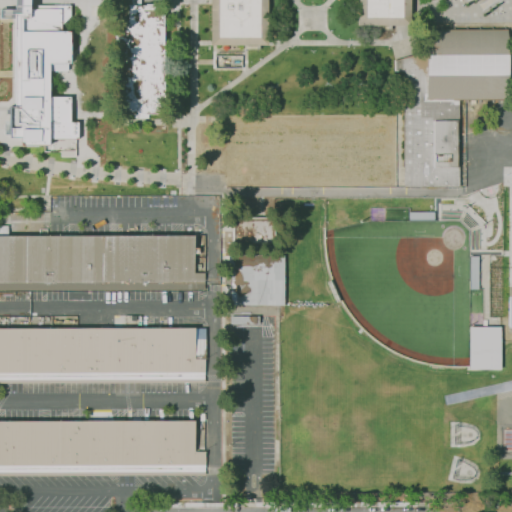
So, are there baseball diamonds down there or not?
Yes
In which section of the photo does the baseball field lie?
right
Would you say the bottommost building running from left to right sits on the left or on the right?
left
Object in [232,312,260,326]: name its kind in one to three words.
shed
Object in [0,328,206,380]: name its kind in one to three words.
building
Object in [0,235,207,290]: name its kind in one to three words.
building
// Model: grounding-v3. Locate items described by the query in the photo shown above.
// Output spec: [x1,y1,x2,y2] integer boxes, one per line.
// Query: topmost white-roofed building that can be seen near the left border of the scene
[12,0,80,158]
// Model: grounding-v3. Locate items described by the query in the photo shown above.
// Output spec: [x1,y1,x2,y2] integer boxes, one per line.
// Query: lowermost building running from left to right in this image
[0,420,206,472]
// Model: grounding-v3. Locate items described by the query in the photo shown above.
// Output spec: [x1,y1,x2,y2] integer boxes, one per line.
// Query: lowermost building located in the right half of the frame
[470,326,503,370]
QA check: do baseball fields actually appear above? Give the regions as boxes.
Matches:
[323,221,470,370]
